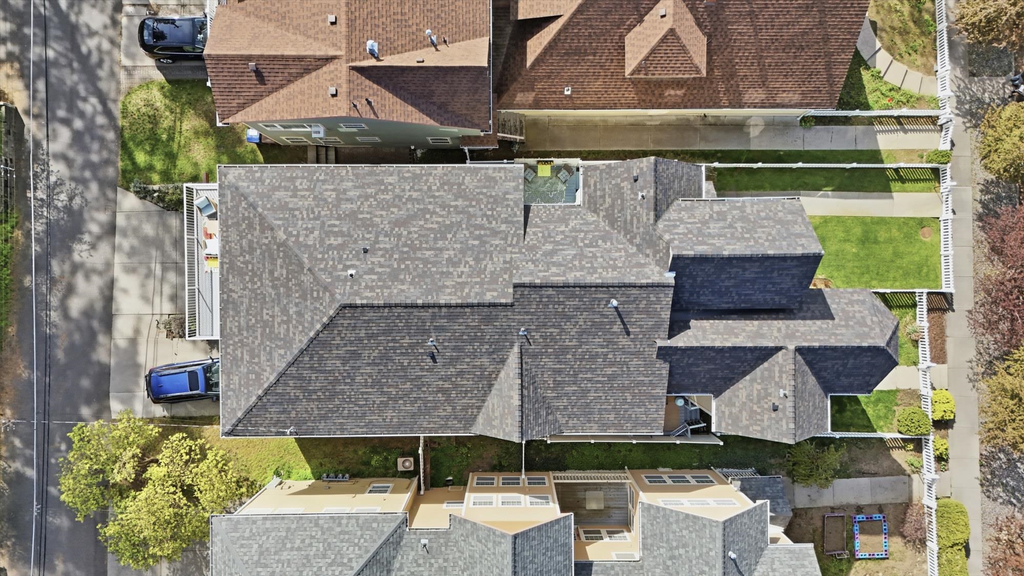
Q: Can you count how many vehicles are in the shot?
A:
2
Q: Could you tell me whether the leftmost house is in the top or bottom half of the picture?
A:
top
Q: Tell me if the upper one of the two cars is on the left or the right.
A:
left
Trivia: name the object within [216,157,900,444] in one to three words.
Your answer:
house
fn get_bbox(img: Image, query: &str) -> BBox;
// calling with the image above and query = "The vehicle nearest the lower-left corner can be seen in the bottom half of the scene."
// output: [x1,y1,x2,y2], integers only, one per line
[138,355,216,406]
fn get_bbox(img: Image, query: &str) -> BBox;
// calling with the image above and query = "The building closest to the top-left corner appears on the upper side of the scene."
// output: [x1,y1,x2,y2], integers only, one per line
[202,0,499,153]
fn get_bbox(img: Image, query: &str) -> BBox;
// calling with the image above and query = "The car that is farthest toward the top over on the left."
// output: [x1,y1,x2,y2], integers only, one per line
[138,15,214,66]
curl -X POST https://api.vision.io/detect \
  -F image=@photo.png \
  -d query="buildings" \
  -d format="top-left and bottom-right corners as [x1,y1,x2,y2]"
[216,157,900,444]
[202,0,499,153]
[208,463,818,576]
[498,0,866,115]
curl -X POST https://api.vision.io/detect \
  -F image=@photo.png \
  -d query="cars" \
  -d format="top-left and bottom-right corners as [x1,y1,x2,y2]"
[138,355,216,406]
[138,15,214,66]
